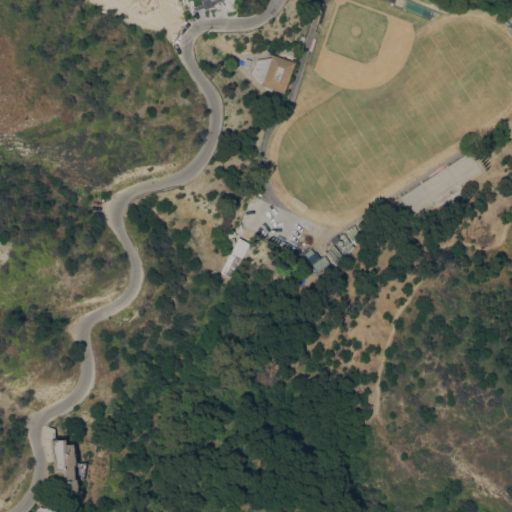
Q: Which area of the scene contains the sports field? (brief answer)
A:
top right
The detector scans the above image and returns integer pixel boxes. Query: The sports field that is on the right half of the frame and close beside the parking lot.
[270,0,512,226]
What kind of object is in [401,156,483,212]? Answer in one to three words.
sports court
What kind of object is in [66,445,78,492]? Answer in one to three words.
house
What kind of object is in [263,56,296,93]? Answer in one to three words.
house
